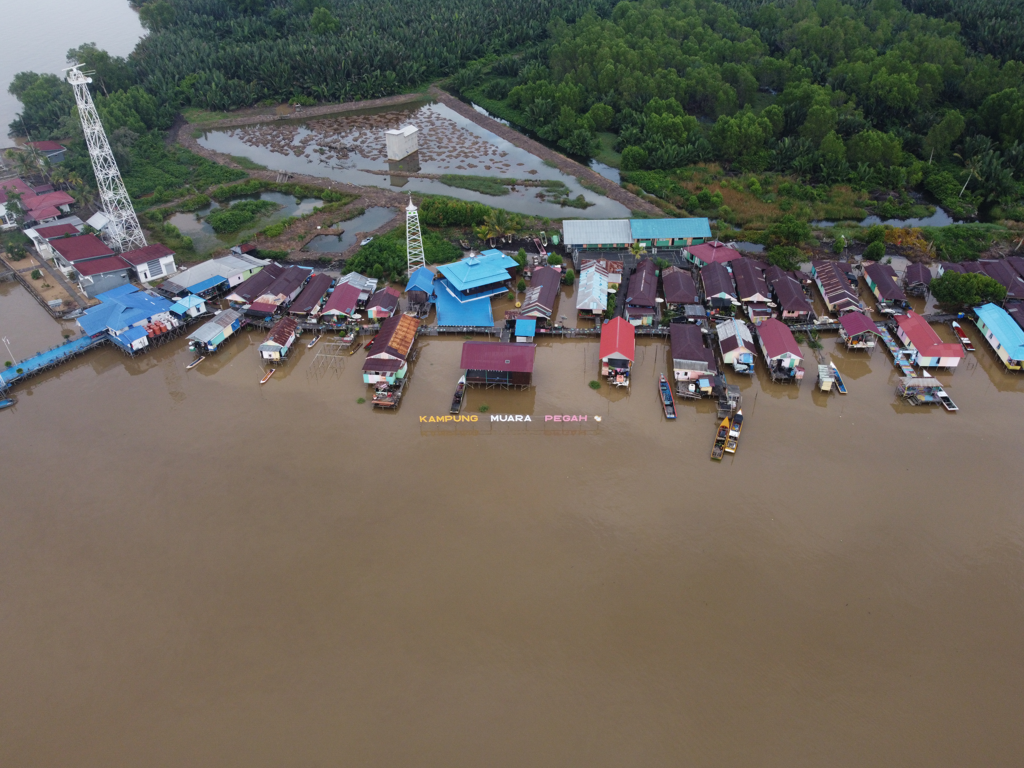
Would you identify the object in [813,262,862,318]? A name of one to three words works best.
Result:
house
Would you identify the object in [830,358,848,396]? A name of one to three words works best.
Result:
boat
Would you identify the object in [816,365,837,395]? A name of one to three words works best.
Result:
shed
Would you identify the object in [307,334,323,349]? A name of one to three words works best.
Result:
boat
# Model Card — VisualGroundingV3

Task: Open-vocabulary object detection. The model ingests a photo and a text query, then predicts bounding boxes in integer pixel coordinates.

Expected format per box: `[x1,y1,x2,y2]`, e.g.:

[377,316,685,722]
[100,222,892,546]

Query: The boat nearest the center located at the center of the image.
[449,372,466,416]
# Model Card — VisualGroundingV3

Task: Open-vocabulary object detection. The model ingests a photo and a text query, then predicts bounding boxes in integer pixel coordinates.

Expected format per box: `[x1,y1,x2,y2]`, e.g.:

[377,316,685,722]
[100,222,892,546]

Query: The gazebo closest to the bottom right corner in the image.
[897,376,943,407]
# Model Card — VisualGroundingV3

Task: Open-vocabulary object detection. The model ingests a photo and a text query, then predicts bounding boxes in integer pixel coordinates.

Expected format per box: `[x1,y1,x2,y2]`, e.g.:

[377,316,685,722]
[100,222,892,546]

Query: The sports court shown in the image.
[573,250,689,320]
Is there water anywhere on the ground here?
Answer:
Yes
